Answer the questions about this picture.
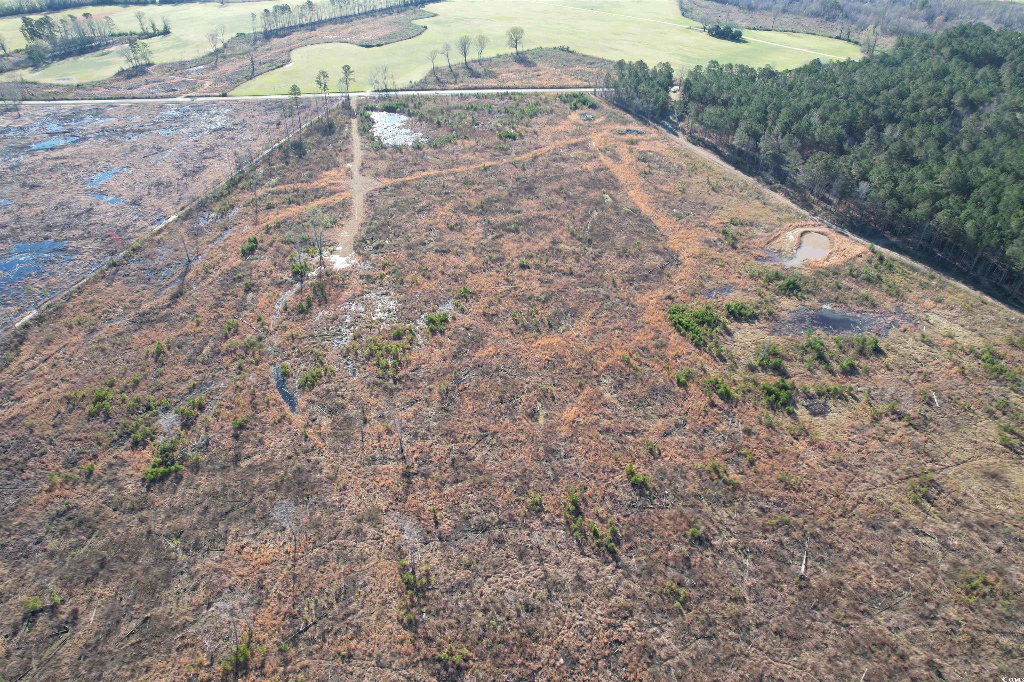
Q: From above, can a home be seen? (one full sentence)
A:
No, the photo shows no home.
